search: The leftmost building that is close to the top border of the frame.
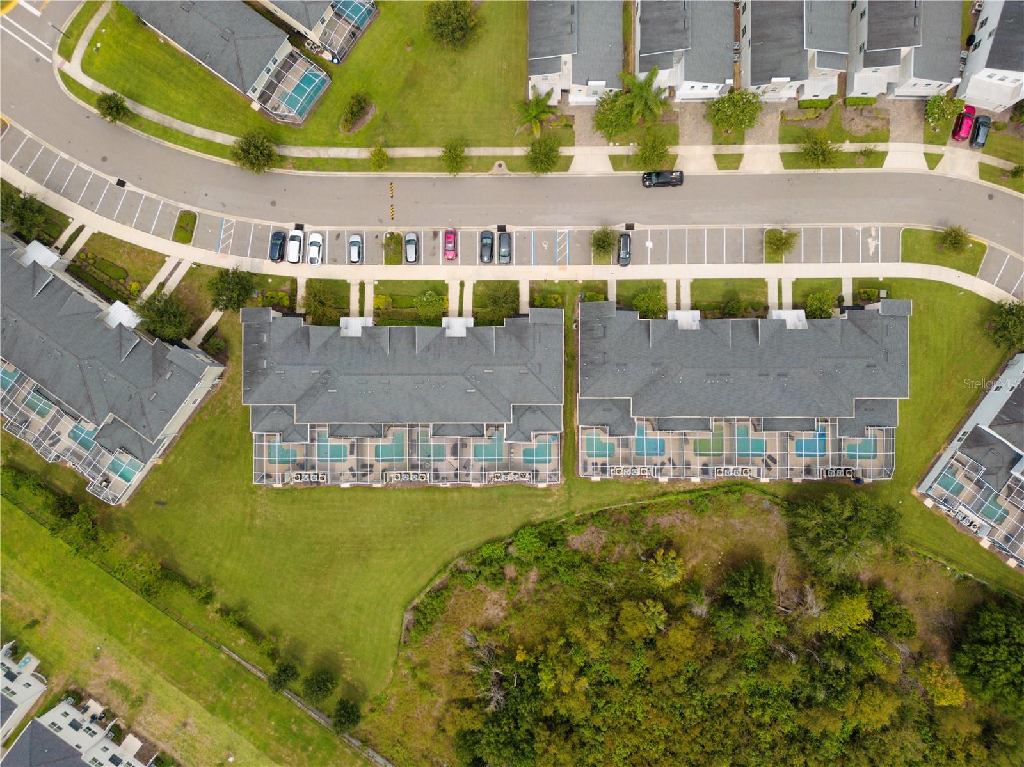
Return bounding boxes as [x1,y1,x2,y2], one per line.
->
[111,0,298,108]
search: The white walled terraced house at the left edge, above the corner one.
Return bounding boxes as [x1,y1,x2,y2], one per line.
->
[0,649,47,754]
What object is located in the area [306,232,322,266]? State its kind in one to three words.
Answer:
car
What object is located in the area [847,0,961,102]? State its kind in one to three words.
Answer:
house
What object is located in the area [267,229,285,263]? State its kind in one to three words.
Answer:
car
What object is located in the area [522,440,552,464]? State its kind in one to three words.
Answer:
swimming pool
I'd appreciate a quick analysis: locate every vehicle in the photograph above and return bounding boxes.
[972,113,996,148]
[306,232,322,266]
[954,105,979,141]
[618,232,634,266]
[267,229,285,263]
[285,228,303,264]
[443,227,457,261]
[402,230,417,263]
[497,231,512,264]
[346,232,362,264]
[479,229,494,263]
[643,168,686,187]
